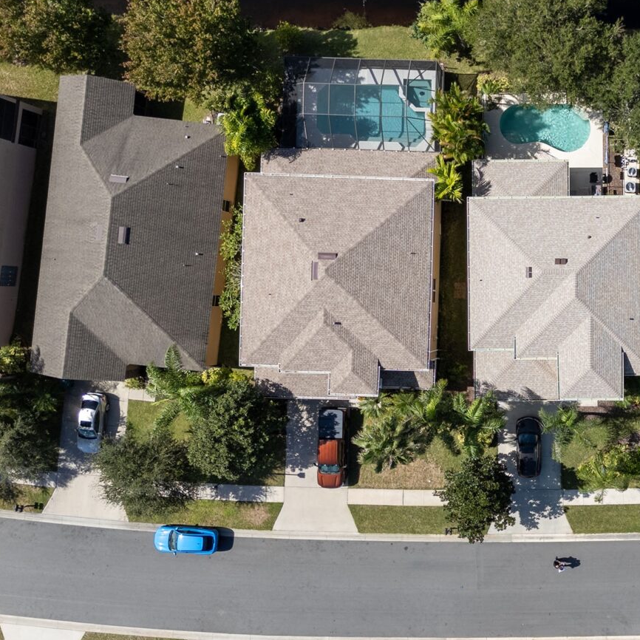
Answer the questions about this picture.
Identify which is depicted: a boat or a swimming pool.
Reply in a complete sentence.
There is a swimming pool in the scene.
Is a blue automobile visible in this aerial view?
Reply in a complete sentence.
Yes, I can see a blue automobile in this picture.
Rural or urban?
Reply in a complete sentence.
The land in this view is best described as urban.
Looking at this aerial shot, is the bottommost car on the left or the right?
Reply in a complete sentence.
The bottommost car appears in the left half of the scene.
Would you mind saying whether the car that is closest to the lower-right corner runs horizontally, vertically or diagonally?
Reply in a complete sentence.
What the image shows is the car that is closest to the lower-right corner lying vertically.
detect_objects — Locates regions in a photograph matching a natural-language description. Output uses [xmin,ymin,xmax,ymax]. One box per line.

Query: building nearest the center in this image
[238,149,441,400]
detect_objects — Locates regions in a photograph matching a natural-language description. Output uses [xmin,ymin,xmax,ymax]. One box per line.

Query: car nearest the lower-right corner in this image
[513,416,545,478]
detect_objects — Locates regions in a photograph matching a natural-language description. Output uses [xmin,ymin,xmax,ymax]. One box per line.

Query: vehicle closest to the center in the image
[314,407,350,485]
